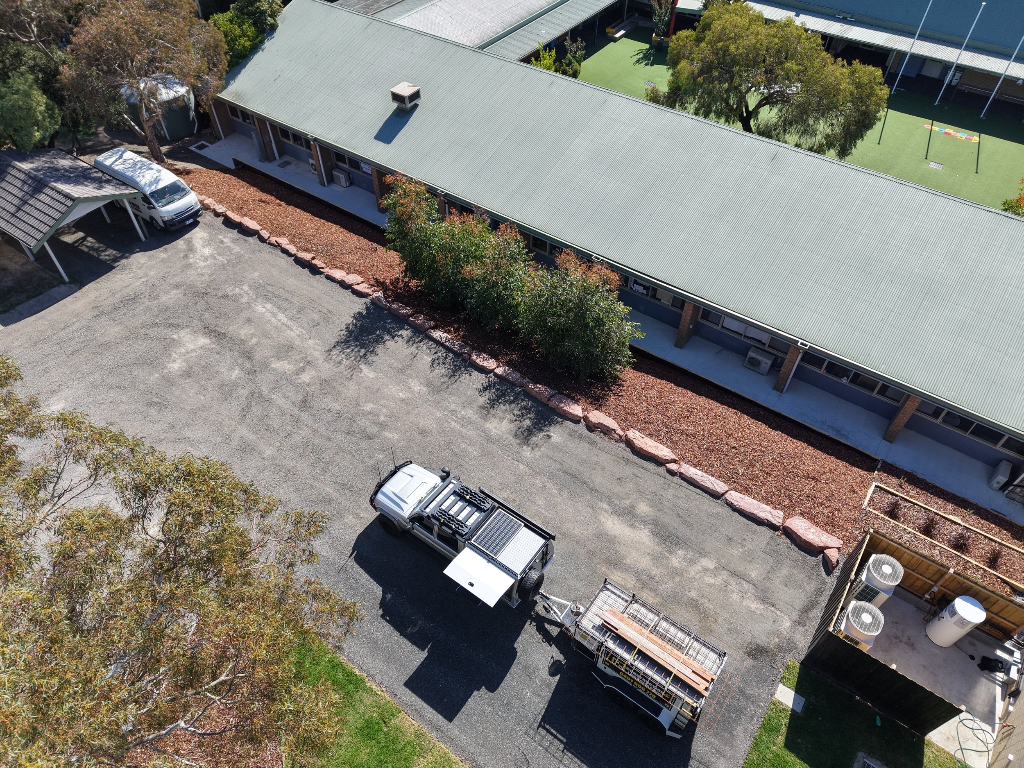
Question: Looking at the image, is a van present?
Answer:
Yes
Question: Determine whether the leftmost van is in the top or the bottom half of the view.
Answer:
top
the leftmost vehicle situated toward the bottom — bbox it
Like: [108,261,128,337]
[372,445,558,607]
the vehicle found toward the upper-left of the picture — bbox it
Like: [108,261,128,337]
[95,153,197,229]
